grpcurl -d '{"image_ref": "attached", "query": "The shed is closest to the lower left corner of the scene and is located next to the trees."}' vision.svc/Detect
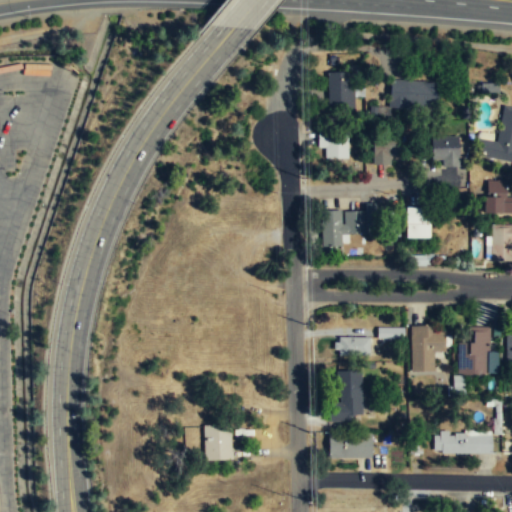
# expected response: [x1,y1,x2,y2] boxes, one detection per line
[184,427,201,448]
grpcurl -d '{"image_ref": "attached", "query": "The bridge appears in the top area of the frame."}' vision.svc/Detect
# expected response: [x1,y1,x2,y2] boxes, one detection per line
[210,0,288,31]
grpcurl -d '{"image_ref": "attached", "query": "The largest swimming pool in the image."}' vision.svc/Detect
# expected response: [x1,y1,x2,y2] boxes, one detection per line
[478,102,492,132]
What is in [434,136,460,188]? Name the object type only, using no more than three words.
house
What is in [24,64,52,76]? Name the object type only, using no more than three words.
shed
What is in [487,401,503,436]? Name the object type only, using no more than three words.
shed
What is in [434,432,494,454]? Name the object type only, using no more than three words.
house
